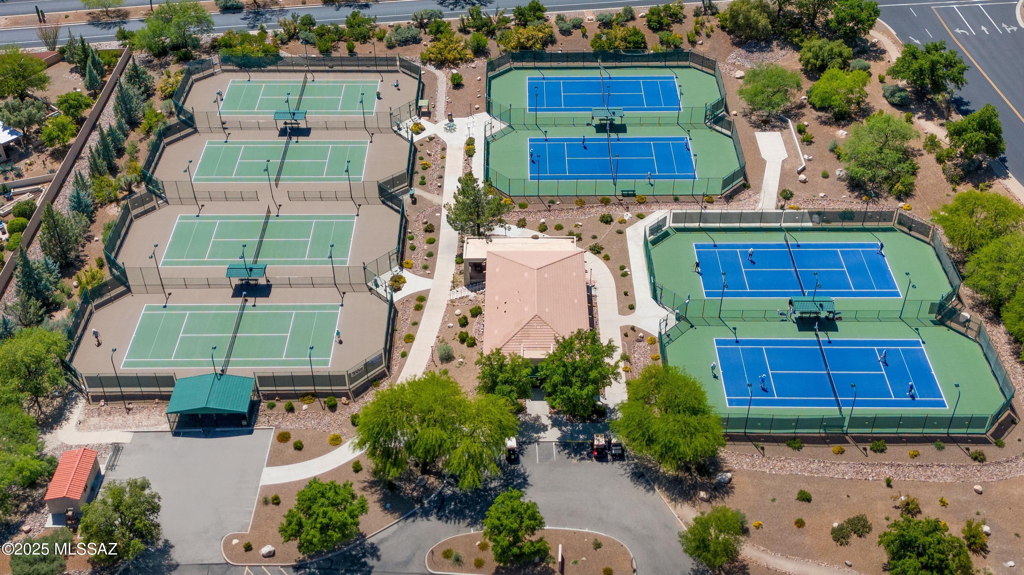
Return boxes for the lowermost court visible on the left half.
[68,284,387,391]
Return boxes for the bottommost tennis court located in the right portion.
[661,317,1007,434]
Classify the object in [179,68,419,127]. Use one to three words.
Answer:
tennis court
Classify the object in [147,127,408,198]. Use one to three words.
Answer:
tennis court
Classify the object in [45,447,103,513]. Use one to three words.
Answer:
shed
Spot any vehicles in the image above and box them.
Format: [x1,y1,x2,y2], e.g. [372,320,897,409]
[610,431,624,456]
[593,433,606,457]
[506,434,518,459]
